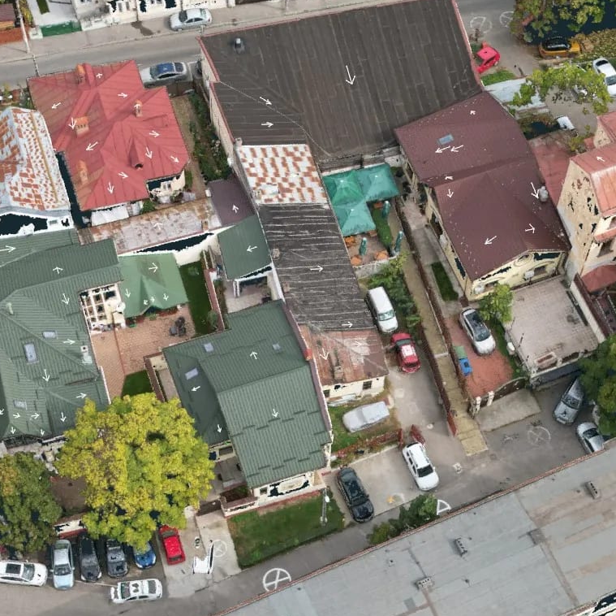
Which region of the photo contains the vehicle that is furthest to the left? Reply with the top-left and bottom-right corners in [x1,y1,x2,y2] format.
[0,560,47,588]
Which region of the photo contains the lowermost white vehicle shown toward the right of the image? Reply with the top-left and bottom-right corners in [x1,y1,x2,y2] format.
[404,443,436,493]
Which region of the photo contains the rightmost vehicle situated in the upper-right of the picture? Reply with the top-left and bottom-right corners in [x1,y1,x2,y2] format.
[592,61,616,96]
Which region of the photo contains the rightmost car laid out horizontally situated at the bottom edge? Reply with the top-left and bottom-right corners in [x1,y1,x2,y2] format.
[110,579,162,605]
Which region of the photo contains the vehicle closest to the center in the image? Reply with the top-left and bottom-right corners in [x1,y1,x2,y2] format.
[367,286,397,333]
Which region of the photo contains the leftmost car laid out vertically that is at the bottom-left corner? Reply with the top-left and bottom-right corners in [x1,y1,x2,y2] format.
[49,541,74,591]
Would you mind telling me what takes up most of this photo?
buildings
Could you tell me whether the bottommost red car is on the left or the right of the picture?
left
